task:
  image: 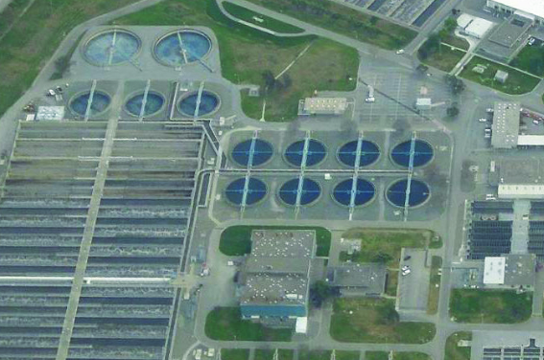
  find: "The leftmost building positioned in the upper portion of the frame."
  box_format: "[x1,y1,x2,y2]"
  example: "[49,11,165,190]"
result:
[303,98,348,115]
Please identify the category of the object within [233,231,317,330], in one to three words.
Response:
building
